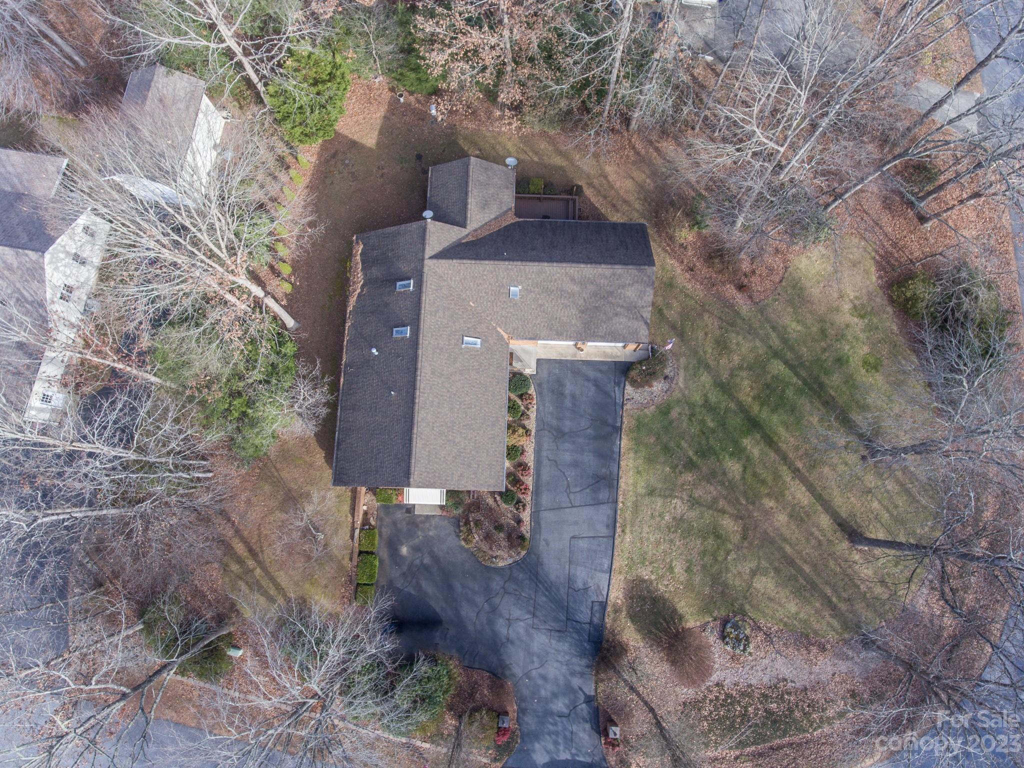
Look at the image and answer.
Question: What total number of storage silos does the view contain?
0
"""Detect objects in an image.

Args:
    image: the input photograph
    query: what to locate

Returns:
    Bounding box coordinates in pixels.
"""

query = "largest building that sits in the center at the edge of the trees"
[331,156,656,491]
